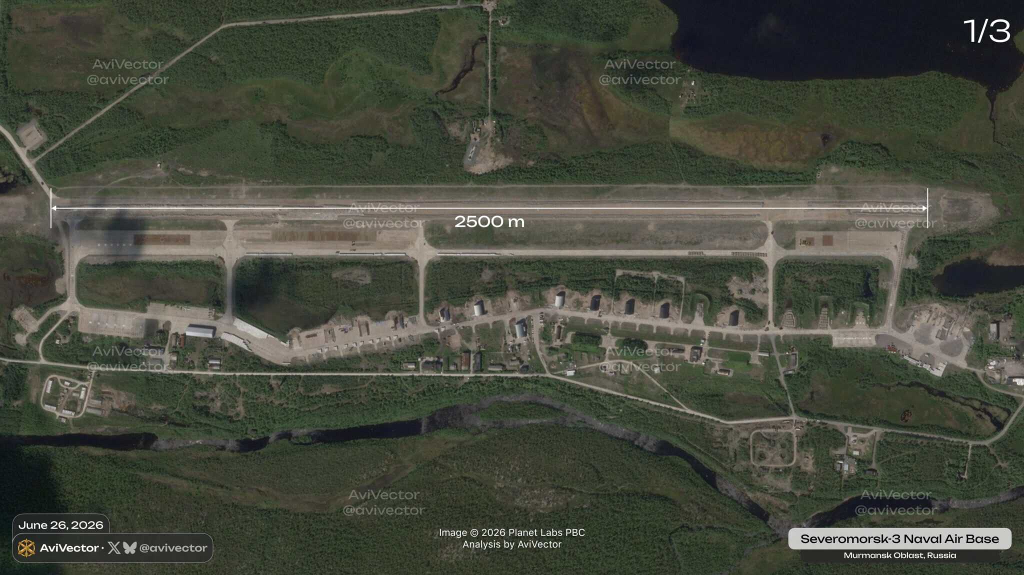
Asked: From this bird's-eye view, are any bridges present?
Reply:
No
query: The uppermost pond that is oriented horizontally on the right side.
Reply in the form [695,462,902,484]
[934,258,1024,296]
